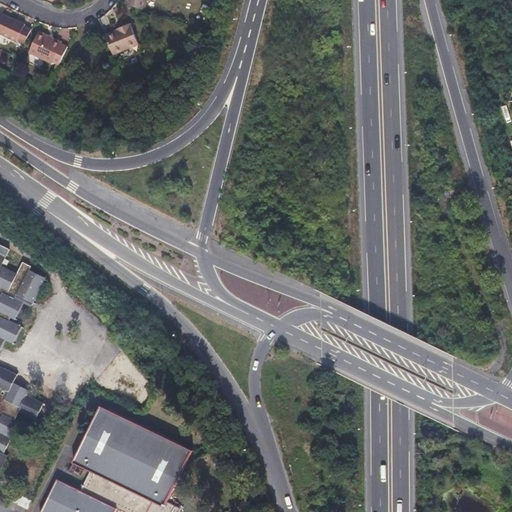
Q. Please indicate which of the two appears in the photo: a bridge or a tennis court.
bridge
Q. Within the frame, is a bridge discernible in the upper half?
No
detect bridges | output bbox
[321,294,459,432]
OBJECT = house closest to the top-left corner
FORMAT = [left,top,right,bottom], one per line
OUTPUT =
[0,12,33,44]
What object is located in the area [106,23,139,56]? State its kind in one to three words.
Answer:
house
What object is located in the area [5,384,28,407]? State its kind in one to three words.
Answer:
house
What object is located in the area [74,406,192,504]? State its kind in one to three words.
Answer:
building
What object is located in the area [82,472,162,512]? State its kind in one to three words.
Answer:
building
